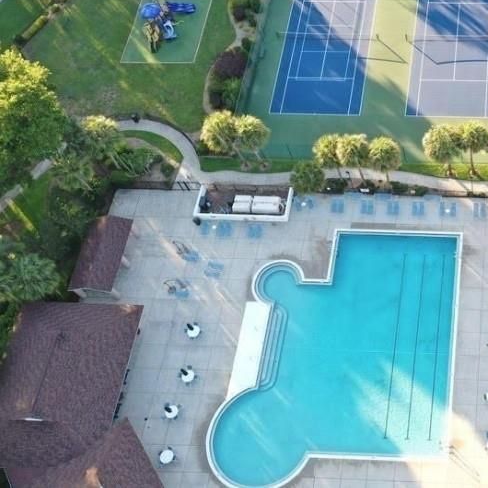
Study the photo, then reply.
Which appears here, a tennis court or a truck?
tennis court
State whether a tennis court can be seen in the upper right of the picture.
Yes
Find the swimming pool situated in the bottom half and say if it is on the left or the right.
right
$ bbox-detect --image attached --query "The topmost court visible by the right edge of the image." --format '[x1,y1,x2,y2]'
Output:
[405,0,488,118]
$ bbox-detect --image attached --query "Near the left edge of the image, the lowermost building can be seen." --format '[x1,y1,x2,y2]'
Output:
[0,300,171,488]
